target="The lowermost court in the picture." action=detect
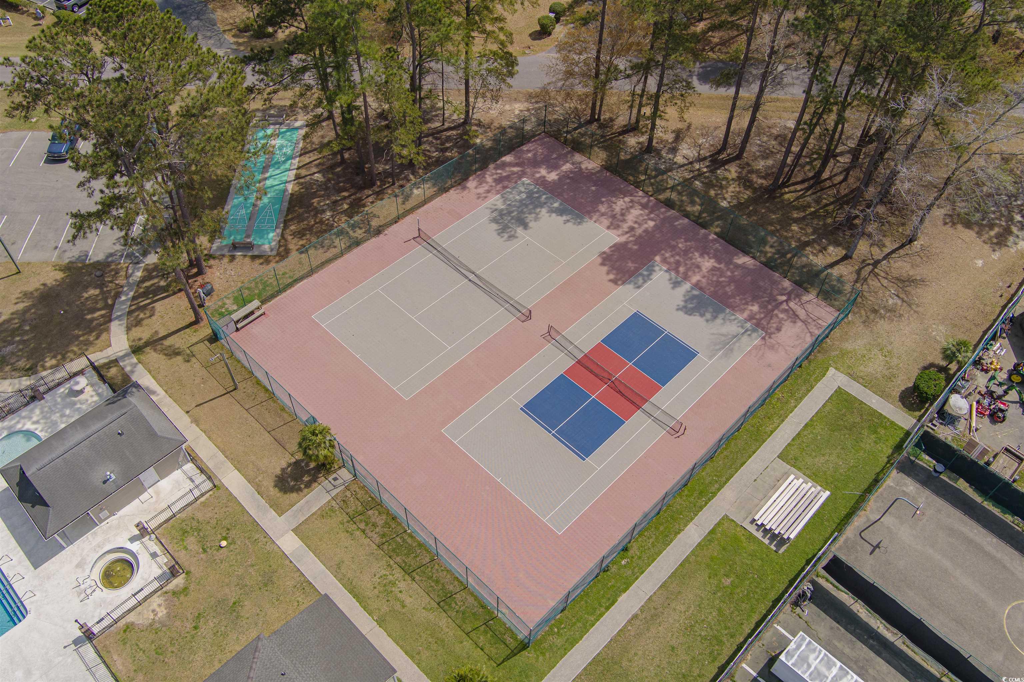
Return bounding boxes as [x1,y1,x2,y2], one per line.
[834,459,1024,682]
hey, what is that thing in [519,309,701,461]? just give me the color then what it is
blue sports court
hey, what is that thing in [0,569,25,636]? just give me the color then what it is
blue swimming pool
